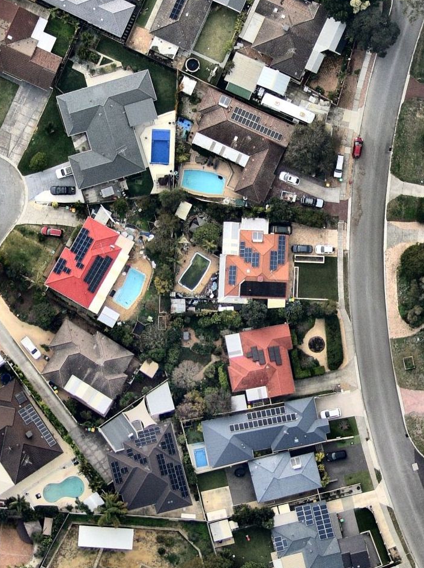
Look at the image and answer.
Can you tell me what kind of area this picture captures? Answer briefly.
residential area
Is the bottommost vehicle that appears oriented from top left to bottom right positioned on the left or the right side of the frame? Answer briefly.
left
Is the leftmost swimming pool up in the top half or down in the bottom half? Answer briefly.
bottom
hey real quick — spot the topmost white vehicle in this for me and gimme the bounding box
[258,91,317,122]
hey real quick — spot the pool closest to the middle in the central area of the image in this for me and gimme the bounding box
[177,253,212,291]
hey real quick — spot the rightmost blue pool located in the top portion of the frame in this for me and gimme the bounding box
[182,169,226,195]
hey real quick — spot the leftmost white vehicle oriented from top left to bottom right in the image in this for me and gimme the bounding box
[19,337,41,359]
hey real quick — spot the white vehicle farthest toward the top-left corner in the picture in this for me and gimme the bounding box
[52,166,72,180]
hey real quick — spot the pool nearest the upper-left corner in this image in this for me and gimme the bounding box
[150,129,170,165]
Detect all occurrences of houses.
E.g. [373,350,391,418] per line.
[189,88,294,203]
[43,217,133,314]
[54,69,156,189]
[0,381,62,495]
[271,503,370,568]
[41,320,133,417]
[139,0,213,59]
[201,396,330,469]
[218,218,290,308]
[0,0,61,88]
[43,0,134,37]
[97,397,192,514]
[224,0,345,99]
[224,323,295,412]
[247,452,323,504]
